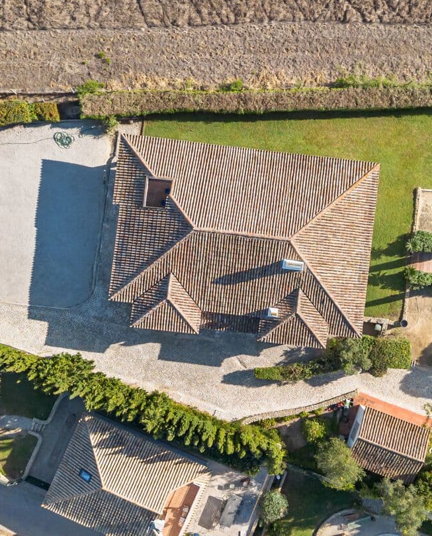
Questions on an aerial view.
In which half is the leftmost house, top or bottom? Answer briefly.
bottom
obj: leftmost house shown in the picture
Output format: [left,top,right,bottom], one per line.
[43,416,212,536]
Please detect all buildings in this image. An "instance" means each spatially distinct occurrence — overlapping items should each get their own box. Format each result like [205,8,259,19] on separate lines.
[347,403,432,486]
[43,416,212,536]
[102,132,381,350]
